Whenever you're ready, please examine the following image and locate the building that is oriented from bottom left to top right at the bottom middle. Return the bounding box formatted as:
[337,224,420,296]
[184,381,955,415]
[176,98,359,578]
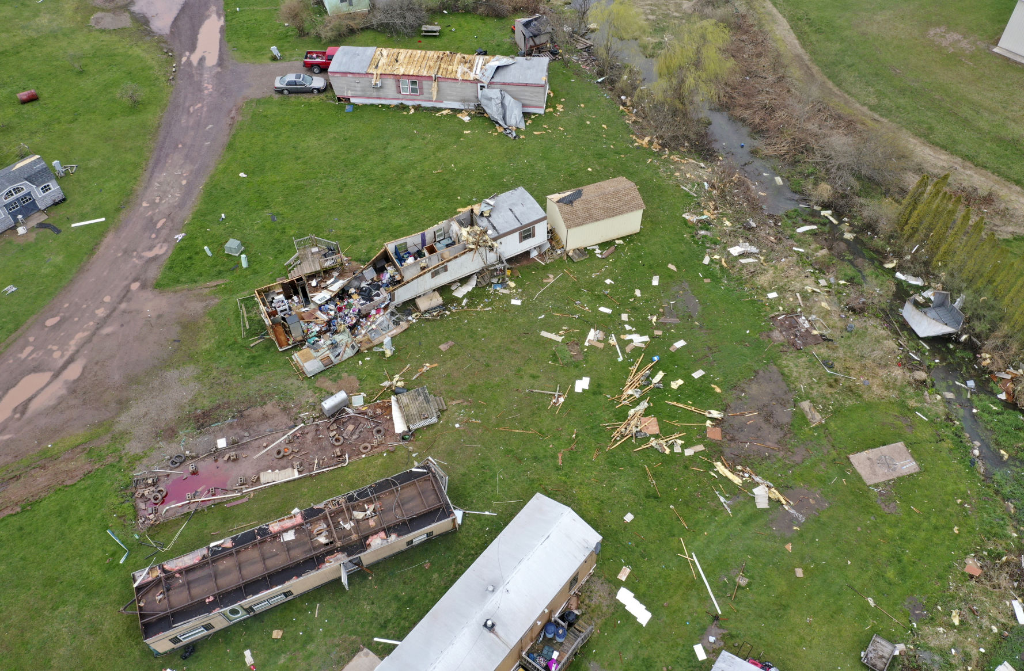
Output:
[365,493,604,671]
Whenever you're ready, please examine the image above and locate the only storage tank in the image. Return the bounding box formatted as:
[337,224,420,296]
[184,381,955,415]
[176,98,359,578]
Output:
[320,390,350,418]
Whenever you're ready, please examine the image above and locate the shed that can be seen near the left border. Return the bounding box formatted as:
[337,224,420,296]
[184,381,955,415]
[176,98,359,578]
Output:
[0,154,66,232]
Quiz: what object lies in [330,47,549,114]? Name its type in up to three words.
house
